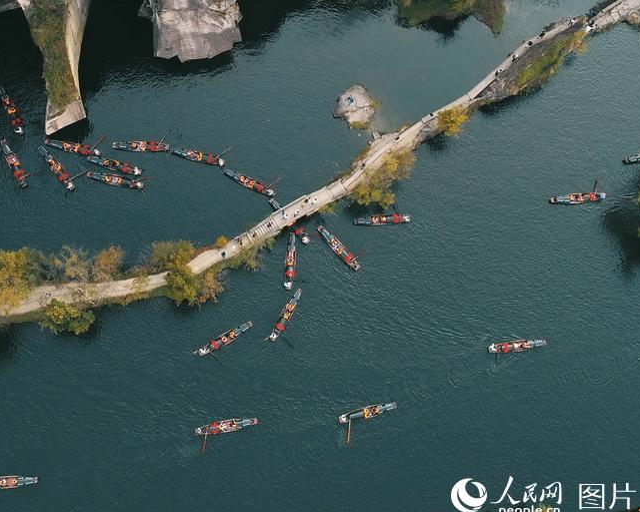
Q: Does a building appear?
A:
No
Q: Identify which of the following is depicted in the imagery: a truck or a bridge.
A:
bridge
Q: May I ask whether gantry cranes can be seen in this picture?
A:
No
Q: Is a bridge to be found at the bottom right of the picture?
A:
No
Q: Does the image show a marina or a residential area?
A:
marina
